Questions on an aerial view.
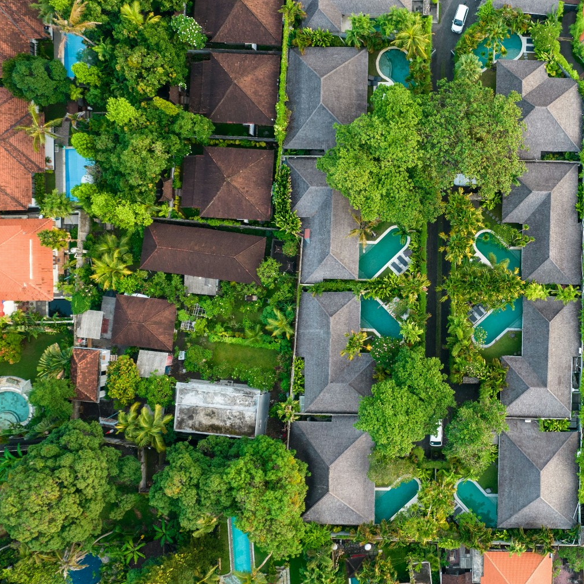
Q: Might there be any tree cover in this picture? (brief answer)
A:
Yes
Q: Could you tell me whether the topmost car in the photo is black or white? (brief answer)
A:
white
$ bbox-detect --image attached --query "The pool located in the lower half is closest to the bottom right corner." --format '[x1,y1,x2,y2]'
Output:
[456,479,498,529]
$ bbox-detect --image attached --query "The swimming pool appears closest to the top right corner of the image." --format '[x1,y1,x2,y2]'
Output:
[472,30,525,71]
